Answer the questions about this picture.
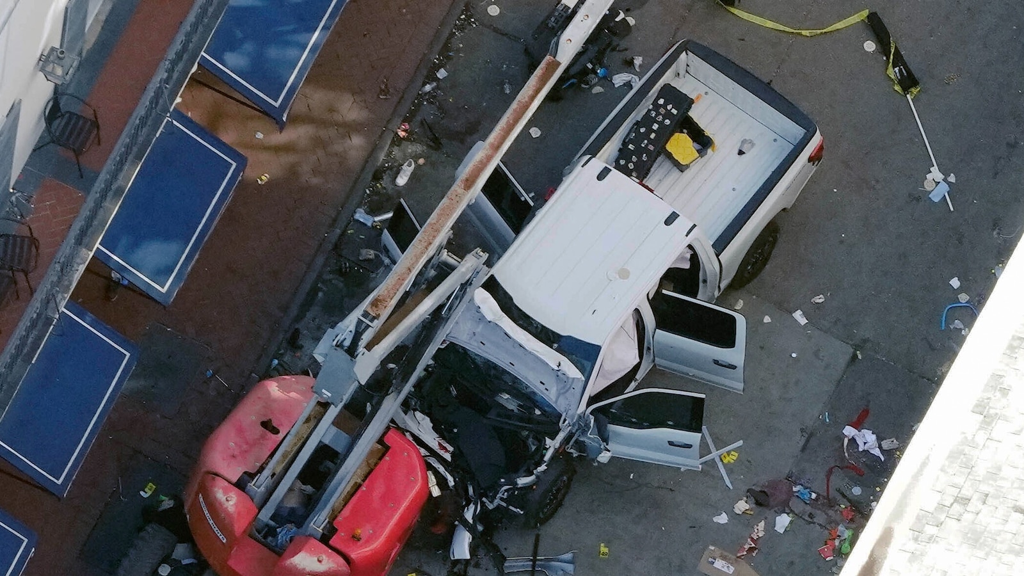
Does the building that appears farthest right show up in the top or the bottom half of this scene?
bottom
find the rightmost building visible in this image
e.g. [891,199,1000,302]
[856,215,1024,576]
